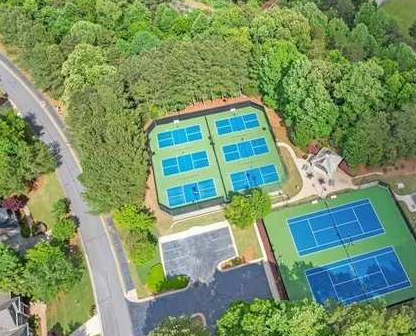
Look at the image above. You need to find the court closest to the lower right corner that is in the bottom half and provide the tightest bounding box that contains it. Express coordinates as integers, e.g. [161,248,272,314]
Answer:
[305,245,412,314]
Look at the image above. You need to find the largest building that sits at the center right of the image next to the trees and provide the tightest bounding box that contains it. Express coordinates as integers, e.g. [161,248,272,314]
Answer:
[308,146,345,182]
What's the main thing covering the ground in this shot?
trees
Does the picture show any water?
No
